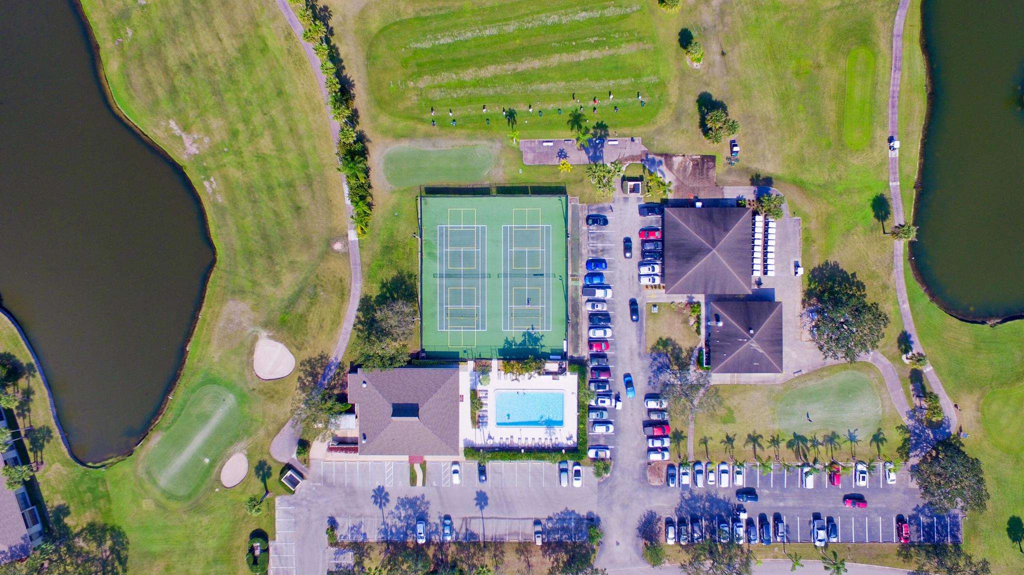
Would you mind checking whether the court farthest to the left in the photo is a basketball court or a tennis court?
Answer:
tennis court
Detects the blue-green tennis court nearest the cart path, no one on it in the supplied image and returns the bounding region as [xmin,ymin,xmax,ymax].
[421,195,494,359]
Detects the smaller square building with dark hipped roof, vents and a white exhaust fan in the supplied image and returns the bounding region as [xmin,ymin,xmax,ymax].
[710,301,783,374]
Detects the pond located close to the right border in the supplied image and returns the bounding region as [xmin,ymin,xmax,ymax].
[914,0,1024,316]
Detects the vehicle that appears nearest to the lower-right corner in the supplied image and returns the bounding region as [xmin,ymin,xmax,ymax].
[897,520,909,542]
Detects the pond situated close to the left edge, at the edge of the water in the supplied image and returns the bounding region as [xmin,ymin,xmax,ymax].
[0,0,211,462]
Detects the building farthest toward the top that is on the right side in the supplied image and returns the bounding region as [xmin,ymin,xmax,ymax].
[663,207,752,294]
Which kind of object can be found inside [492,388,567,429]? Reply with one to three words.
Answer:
swimming pool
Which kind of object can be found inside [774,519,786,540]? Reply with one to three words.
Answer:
vehicle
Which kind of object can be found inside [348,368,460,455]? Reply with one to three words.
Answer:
building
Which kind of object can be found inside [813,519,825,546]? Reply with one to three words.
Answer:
vehicle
